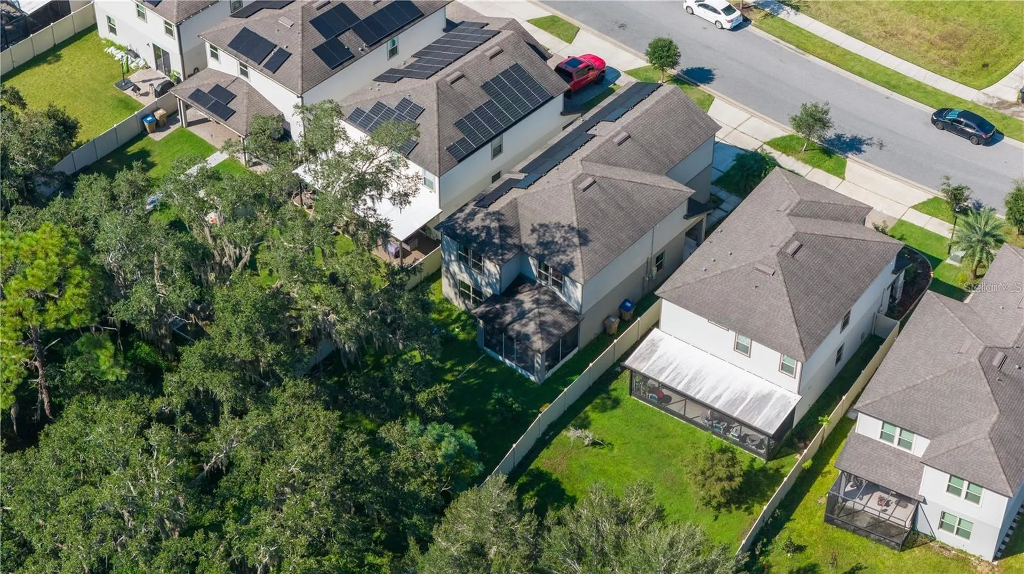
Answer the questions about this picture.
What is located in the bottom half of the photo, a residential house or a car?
residential house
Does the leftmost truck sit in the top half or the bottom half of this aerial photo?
top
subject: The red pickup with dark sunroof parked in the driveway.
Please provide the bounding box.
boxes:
[559,57,609,100]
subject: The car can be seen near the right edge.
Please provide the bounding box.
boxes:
[930,108,997,145]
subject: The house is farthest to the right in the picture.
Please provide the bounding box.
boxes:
[821,239,1024,557]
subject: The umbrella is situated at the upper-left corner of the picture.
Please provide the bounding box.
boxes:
[112,56,135,90]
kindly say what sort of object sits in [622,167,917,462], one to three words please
house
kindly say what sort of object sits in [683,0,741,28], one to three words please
car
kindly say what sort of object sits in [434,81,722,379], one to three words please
house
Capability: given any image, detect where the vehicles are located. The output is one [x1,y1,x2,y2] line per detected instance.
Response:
[930,108,997,145]
[559,57,609,100]
[683,0,741,28]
